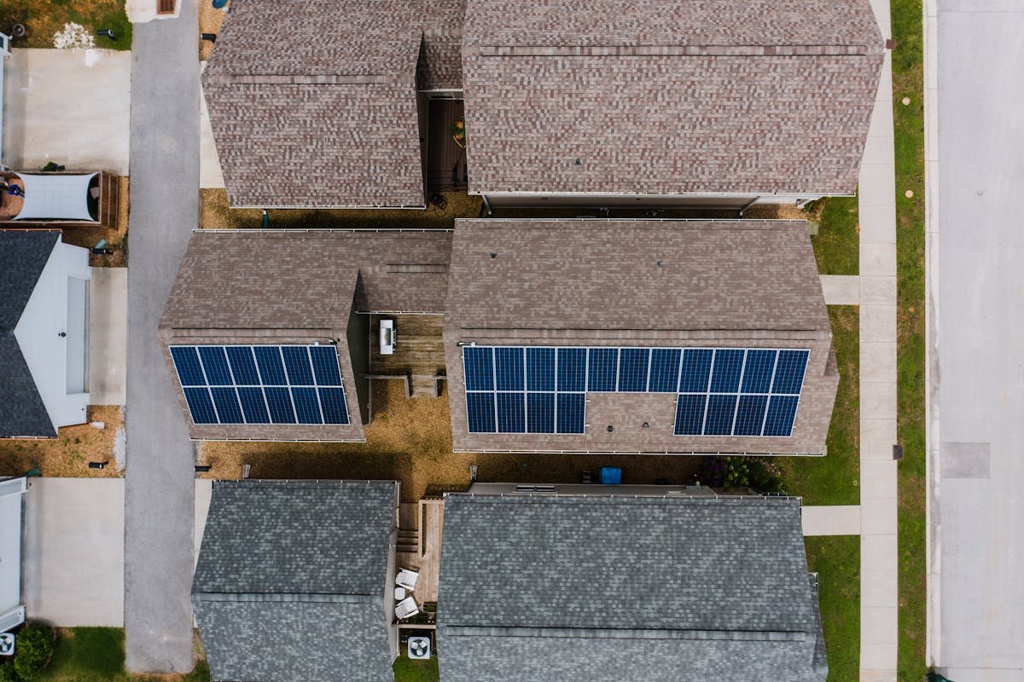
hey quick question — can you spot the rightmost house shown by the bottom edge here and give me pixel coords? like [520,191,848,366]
[437,478,829,682]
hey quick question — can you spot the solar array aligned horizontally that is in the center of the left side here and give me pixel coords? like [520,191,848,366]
[167,346,349,424]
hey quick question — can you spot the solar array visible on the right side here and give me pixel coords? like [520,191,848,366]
[461,347,810,437]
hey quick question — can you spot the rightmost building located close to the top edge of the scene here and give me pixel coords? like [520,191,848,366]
[462,0,886,218]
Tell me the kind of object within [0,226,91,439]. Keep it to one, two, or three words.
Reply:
building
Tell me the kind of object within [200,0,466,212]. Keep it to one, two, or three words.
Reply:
building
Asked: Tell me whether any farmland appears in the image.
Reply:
No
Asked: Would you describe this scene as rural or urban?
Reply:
urban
